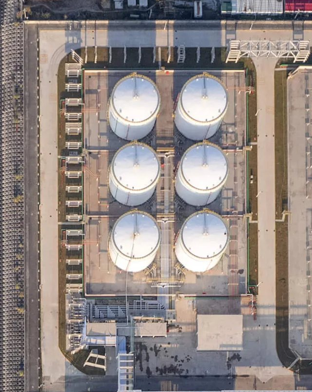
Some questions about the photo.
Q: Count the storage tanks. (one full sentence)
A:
The number of storage tanks here is 6.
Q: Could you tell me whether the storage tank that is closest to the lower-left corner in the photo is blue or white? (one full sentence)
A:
In this view, the storage tank that is closest to the lower-left corner is white.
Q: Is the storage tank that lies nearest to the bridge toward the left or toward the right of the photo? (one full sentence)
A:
The storage tank that lies nearest to the bridge appears in the right half of the scene.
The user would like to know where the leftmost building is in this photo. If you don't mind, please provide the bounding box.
[87,319,116,337]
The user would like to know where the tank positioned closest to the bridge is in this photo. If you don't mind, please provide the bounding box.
[175,69,231,141]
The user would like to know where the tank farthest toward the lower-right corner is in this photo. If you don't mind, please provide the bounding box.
[175,205,231,272]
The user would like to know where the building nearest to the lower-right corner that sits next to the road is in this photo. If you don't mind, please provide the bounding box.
[196,315,243,362]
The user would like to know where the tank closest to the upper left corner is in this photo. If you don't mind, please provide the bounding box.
[108,69,162,141]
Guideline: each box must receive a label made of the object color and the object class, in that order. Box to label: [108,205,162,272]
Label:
white storage tank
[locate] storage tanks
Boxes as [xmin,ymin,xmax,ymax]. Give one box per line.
[108,205,162,272]
[175,137,231,207]
[175,205,231,272]
[108,69,162,141]
[175,69,231,141]
[108,137,162,207]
